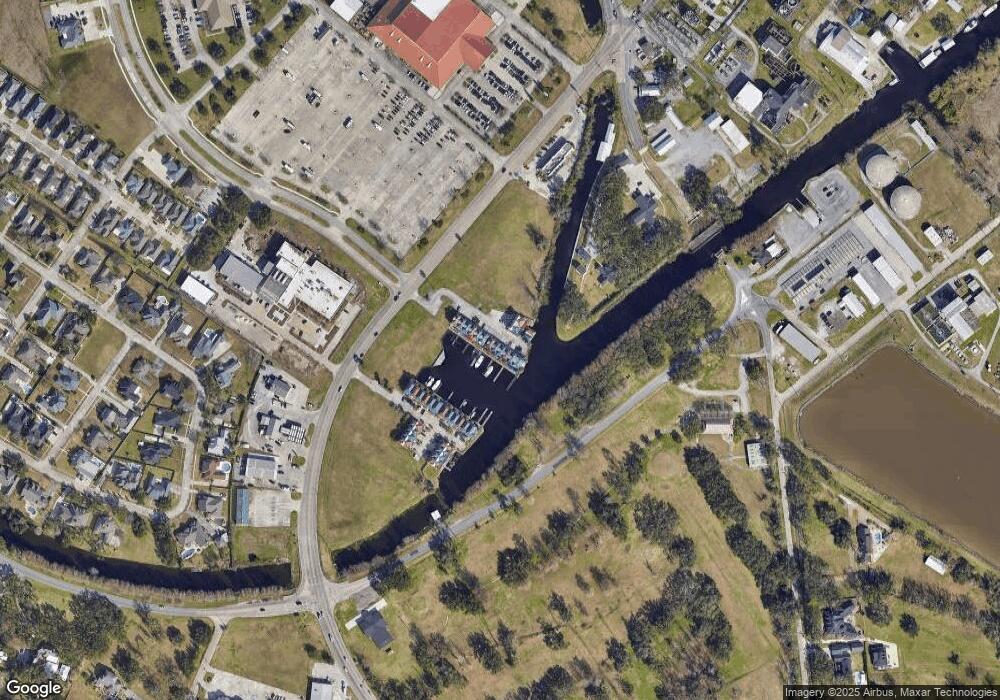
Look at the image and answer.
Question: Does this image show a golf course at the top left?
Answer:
No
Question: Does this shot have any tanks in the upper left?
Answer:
No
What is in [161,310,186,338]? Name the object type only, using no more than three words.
house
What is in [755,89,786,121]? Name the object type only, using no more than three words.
building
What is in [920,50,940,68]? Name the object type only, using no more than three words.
boat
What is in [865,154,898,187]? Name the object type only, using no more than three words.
storage tank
